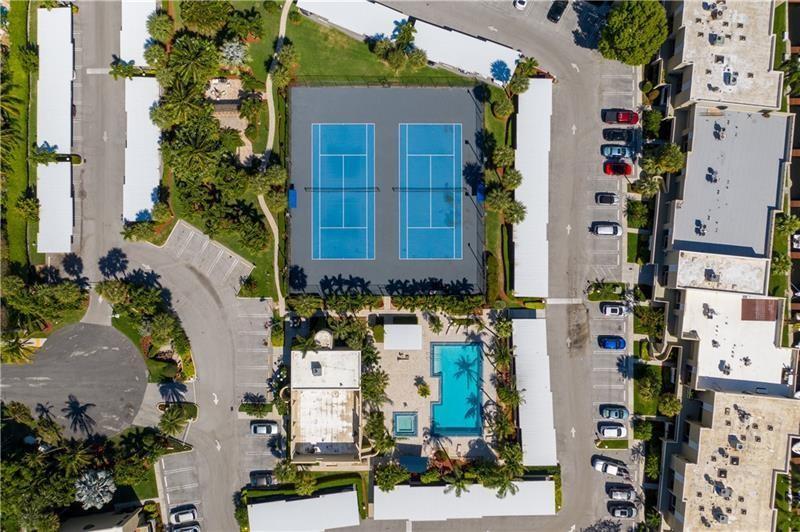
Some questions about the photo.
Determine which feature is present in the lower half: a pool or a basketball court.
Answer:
pool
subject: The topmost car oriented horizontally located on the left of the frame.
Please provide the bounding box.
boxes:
[251,422,279,435]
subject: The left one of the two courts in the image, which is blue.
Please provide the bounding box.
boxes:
[305,123,380,260]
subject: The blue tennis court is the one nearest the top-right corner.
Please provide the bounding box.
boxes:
[394,123,469,260]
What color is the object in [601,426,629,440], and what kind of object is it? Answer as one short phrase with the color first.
white car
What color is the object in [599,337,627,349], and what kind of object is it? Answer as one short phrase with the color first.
blue vehicle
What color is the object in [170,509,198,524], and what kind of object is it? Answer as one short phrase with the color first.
white car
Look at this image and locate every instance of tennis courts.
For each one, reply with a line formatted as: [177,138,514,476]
[394,123,469,260]
[305,123,380,260]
